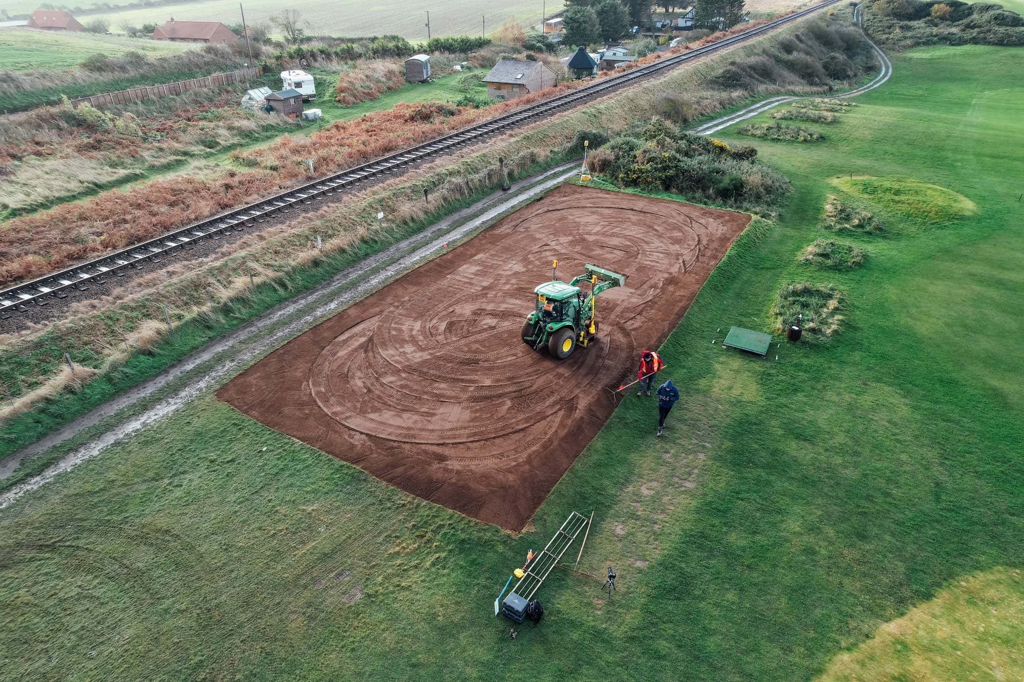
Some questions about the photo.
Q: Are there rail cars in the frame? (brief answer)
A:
No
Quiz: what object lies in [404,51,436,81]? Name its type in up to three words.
shed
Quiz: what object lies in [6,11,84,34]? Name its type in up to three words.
house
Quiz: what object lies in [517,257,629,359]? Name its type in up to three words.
work vehicle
